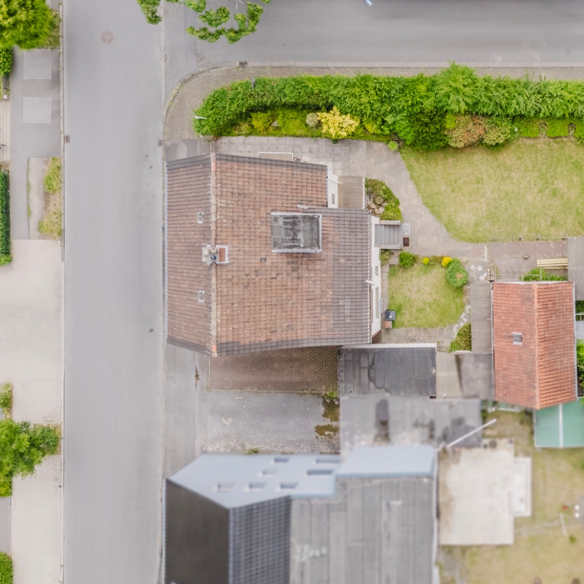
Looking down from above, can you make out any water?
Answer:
No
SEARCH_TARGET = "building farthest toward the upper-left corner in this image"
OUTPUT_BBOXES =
[165,153,381,355]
